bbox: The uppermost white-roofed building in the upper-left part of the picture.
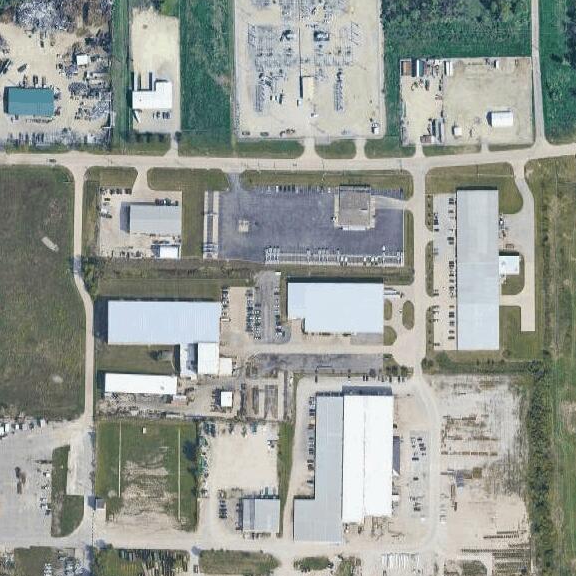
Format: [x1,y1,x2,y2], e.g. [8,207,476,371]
[132,82,171,108]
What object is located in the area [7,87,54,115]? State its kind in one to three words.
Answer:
shed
